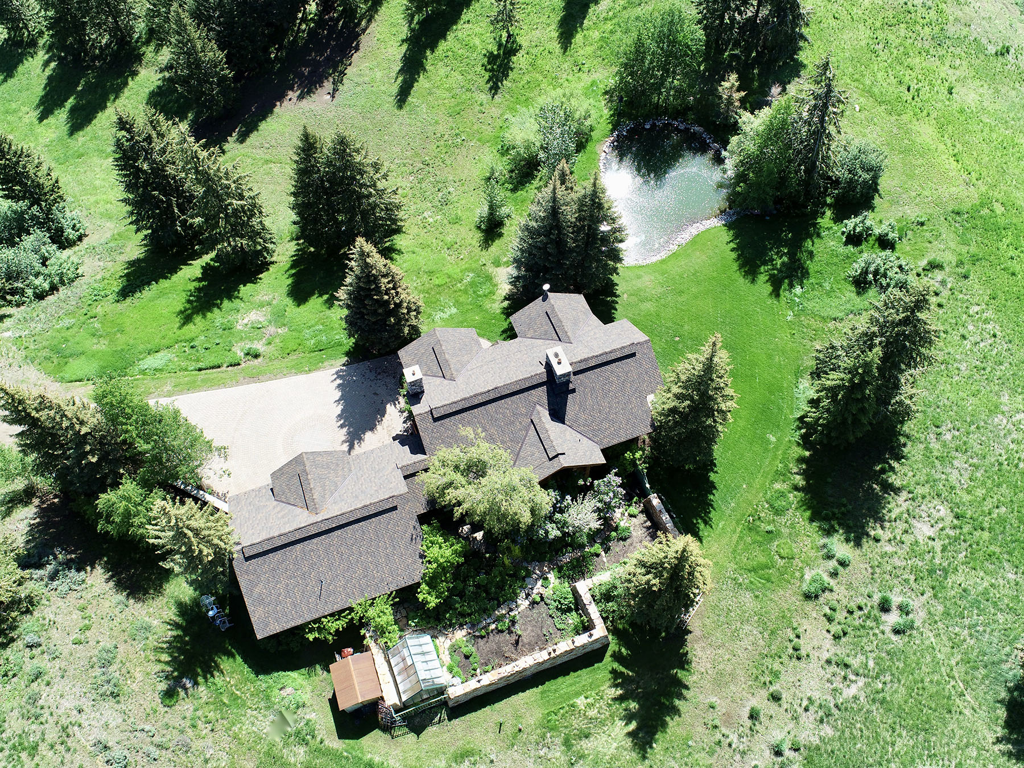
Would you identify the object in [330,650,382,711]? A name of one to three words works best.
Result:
shed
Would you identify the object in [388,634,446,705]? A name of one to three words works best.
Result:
greenhouse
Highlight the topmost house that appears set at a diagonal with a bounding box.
[232,294,666,640]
